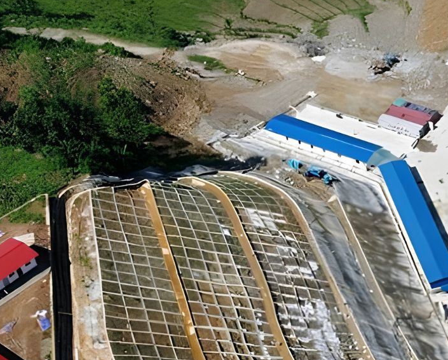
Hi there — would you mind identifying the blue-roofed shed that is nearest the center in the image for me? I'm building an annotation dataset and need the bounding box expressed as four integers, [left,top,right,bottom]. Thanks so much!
[263,113,381,170]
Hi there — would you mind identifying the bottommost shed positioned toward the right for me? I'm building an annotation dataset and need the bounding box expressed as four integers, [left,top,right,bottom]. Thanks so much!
[367,143,448,293]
